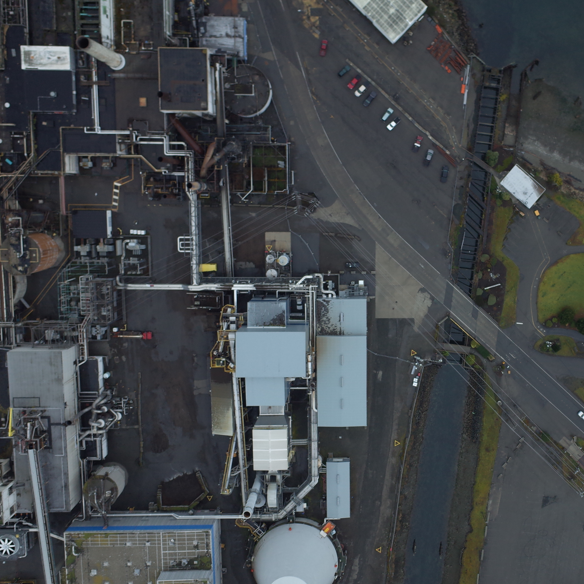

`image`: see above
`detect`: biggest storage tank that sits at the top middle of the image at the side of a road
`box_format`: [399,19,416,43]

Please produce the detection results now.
[226,59,274,115]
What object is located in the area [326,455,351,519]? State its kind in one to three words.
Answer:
building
